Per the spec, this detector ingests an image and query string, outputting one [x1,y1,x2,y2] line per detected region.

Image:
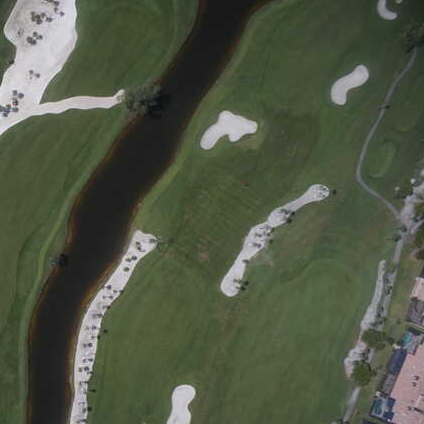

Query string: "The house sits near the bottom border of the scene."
[378,330,424,424]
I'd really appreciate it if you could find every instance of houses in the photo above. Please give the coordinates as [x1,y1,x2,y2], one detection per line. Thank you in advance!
[404,262,424,328]
[378,330,424,424]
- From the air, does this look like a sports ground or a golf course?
golf course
